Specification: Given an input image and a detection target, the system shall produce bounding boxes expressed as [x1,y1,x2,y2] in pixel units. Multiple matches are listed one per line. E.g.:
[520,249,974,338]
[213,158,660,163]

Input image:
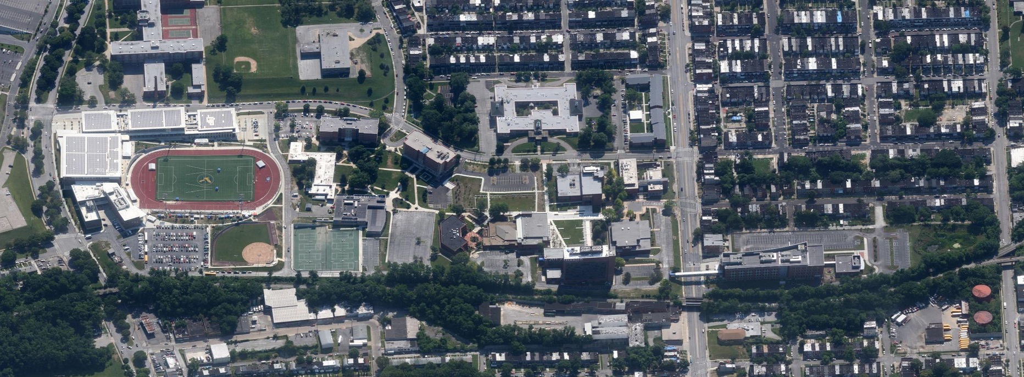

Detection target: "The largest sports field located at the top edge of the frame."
[220,6,297,79]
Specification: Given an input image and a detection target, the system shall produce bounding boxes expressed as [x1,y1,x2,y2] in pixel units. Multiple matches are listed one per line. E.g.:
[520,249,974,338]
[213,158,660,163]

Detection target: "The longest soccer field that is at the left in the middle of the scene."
[156,155,255,201]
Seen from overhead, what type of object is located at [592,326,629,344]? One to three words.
shed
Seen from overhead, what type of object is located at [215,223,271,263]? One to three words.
baseball field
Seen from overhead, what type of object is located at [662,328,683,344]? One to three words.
building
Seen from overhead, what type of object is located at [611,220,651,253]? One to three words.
building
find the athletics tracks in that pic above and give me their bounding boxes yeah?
[130,148,281,211]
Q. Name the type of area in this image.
residential area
